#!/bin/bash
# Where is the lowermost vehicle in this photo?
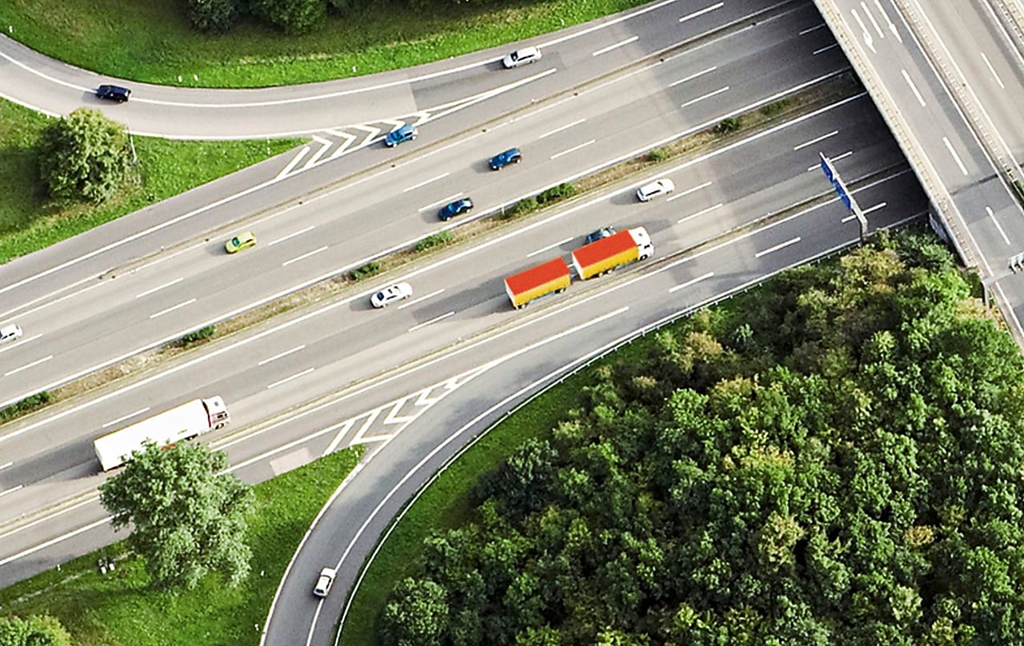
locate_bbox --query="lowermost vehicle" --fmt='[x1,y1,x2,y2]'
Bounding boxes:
[311,568,337,600]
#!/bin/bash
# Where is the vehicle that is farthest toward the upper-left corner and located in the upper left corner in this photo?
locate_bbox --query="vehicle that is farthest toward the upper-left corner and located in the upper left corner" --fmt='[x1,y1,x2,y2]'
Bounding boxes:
[96,84,132,104]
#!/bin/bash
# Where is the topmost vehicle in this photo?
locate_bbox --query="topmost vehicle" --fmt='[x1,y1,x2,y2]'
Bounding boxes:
[503,45,541,68]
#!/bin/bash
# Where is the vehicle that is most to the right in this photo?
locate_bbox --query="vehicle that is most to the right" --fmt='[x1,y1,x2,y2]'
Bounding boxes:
[637,179,675,202]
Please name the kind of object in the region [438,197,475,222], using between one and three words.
car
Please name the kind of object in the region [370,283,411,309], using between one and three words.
car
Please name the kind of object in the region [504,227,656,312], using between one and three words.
truck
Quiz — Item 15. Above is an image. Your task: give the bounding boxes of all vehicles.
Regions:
[94,396,230,472]
[637,179,675,202]
[370,283,411,309]
[503,45,541,68]
[224,230,258,254]
[96,84,132,104]
[438,197,475,222]
[583,224,620,245]
[504,227,656,312]
[311,568,337,600]
[385,123,418,147]
[488,147,522,171]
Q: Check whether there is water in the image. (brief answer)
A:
No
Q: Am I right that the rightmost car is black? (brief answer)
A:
No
